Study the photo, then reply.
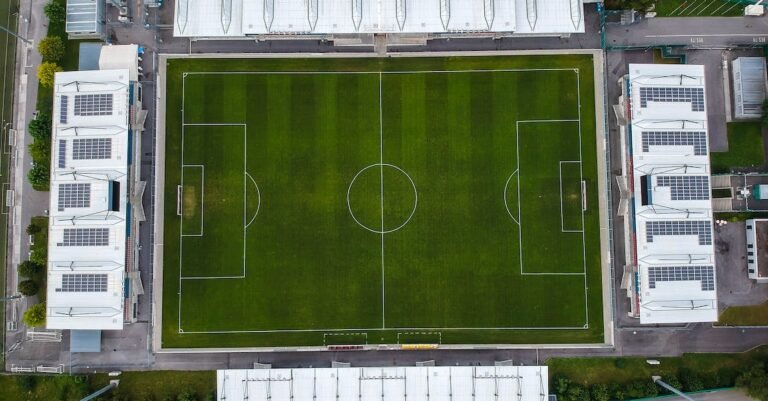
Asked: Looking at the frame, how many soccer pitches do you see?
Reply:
one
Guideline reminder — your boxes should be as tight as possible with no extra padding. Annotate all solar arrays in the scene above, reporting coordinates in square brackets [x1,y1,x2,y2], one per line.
[58,139,65,168]
[74,94,112,115]
[658,176,710,199]
[57,229,109,246]
[646,221,712,244]
[649,266,715,290]
[55,274,106,292]
[58,184,90,211]
[73,138,111,160]
[60,96,67,124]
[640,88,704,111]
[643,132,706,155]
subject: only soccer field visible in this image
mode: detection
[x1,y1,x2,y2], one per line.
[161,55,604,349]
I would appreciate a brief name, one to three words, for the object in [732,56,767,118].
shed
